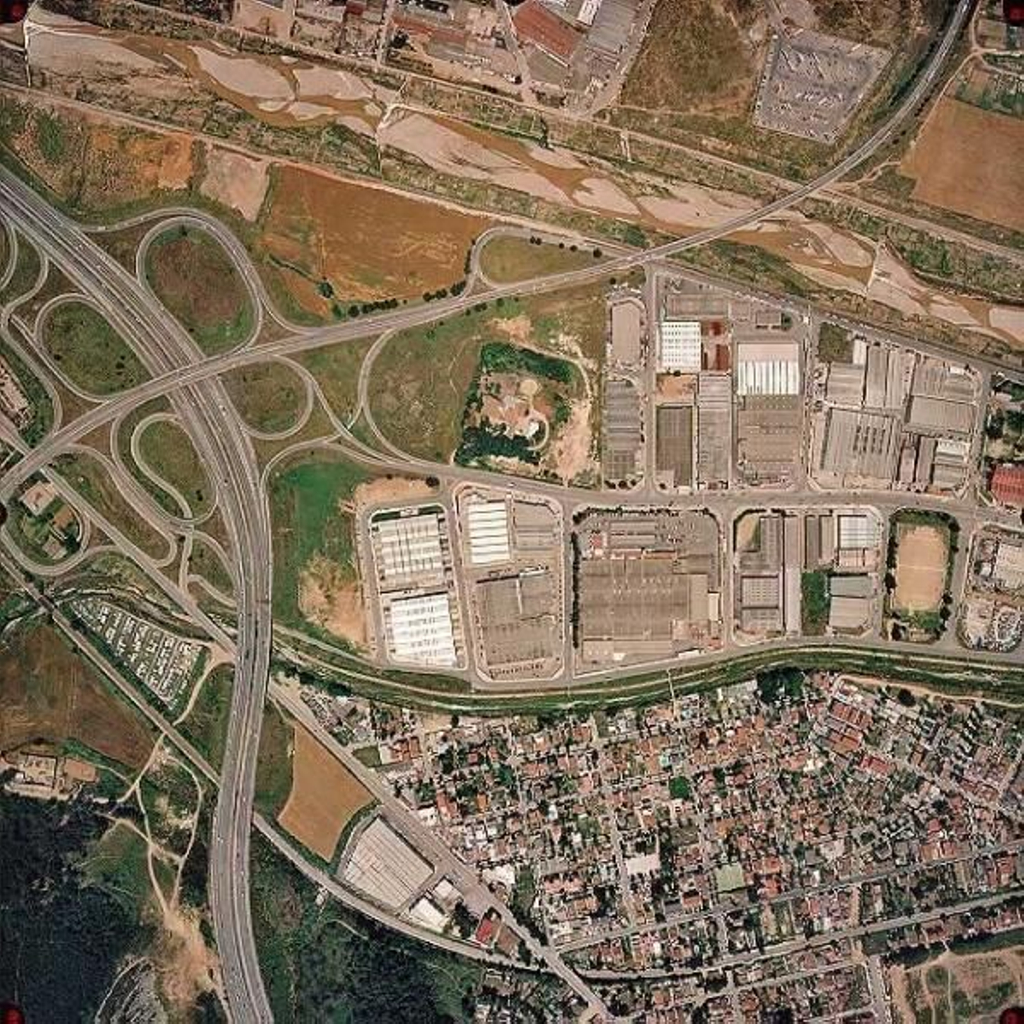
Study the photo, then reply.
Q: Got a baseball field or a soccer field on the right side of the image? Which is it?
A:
soccer field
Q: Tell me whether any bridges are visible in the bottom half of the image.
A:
Yes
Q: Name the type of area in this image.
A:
residential area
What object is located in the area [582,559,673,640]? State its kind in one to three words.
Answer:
building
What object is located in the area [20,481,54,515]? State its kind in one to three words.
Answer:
house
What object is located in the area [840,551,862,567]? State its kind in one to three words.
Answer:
building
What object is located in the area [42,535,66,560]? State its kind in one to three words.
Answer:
house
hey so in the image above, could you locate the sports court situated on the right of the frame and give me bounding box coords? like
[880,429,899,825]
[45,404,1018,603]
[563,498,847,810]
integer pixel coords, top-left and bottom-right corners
[717,864,746,895]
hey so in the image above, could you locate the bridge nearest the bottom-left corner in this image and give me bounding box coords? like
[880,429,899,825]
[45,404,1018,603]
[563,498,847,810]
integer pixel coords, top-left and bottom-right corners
[216,775,256,810]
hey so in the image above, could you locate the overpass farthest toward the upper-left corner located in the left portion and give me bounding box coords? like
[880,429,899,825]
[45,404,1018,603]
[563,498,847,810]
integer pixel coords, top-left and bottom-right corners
[146,355,226,398]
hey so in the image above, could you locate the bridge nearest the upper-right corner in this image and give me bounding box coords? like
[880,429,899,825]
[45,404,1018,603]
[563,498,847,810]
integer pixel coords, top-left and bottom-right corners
[639,171,831,261]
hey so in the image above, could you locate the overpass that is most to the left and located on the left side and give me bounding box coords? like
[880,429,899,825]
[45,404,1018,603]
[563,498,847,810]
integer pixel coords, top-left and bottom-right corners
[15,445,52,478]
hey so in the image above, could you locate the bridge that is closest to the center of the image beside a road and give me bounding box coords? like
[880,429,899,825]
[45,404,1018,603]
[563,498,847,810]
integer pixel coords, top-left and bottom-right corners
[232,612,272,698]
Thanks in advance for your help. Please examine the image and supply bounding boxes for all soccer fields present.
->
[894,525,948,609]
